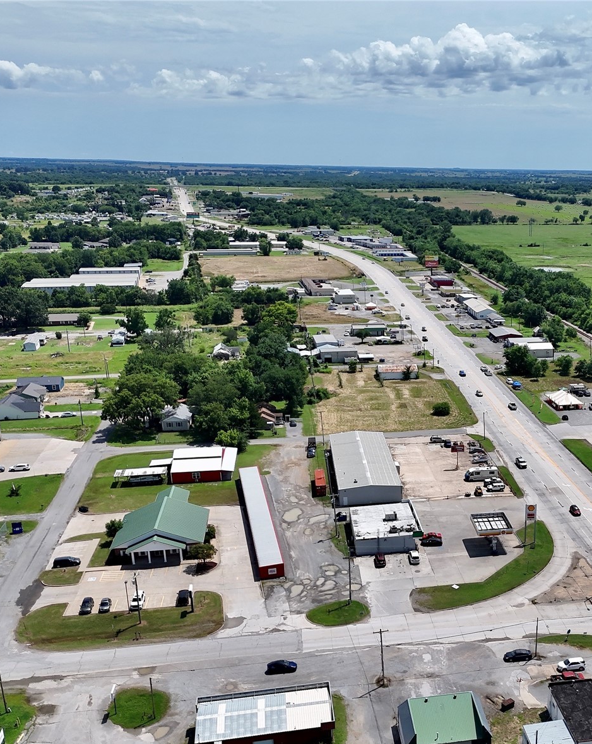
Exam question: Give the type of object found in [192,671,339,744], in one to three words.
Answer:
building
